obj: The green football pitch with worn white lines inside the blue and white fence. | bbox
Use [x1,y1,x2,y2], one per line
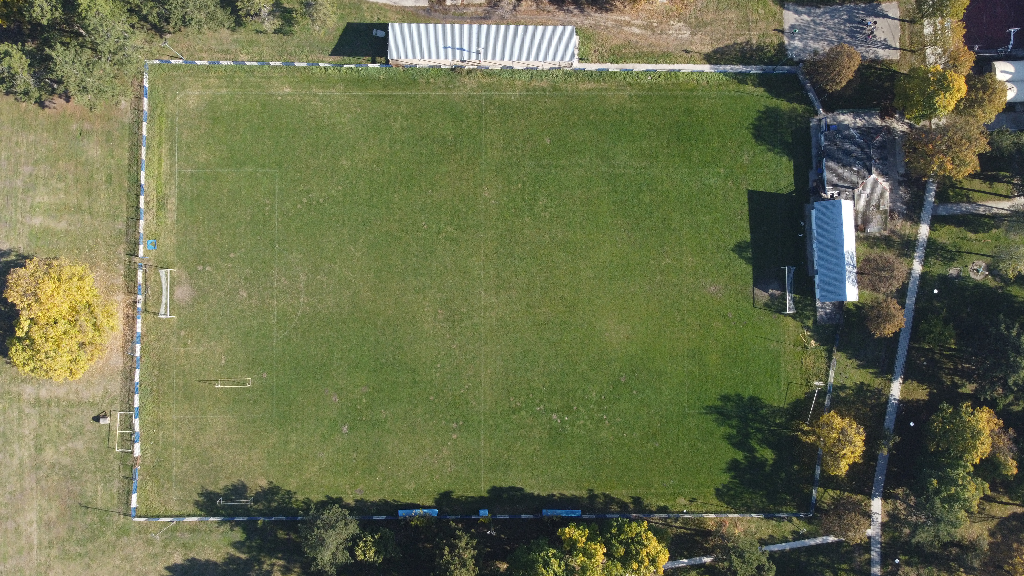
[136,64,839,518]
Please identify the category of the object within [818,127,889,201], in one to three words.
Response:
building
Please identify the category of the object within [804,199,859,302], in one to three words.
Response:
building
